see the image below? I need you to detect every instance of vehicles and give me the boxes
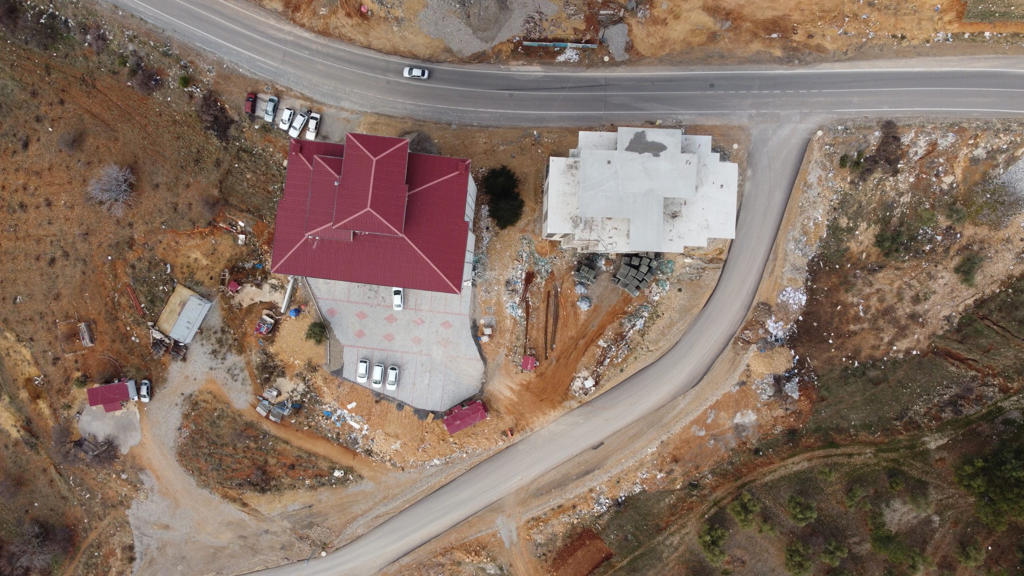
[371,363,385,388]
[393,286,404,310]
[289,112,309,139]
[264,96,279,123]
[306,113,322,141]
[387,365,399,390]
[281,107,296,132]
[356,358,370,383]
[403,68,429,81]
[139,379,153,402]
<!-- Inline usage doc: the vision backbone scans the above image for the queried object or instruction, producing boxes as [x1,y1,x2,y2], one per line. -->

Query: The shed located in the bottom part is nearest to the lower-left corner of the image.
[87,378,142,412]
